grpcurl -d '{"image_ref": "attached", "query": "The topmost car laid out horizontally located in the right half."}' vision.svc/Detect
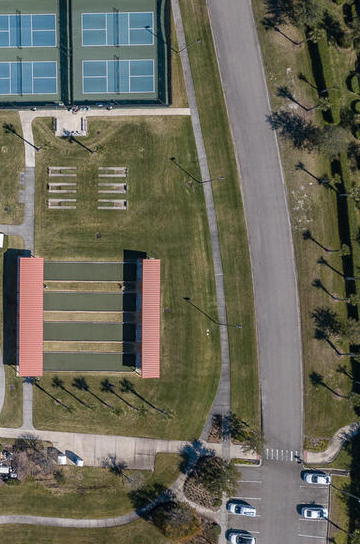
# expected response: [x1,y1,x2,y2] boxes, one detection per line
[303,472,329,485]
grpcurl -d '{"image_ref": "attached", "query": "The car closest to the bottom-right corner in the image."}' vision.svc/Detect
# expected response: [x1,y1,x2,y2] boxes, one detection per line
[301,506,327,519]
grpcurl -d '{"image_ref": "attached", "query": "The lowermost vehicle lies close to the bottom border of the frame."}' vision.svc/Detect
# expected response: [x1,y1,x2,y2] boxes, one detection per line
[228,532,256,544]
